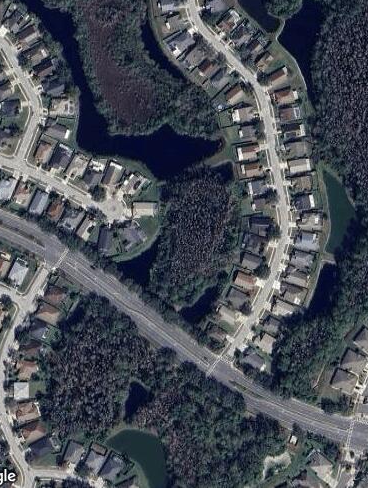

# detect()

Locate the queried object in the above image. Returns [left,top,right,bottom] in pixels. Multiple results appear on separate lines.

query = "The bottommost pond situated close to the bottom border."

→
[112,429,168,488]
